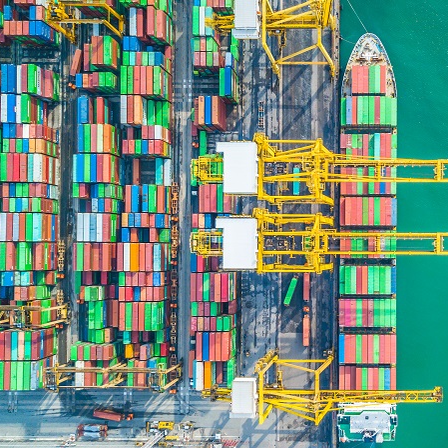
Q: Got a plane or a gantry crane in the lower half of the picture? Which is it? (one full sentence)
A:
It is a gantry crane that can be seen in the lower half of the picture.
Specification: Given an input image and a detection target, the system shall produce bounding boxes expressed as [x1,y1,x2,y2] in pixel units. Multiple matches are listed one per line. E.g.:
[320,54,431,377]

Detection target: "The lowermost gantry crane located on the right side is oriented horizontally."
[194,340,445,428]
